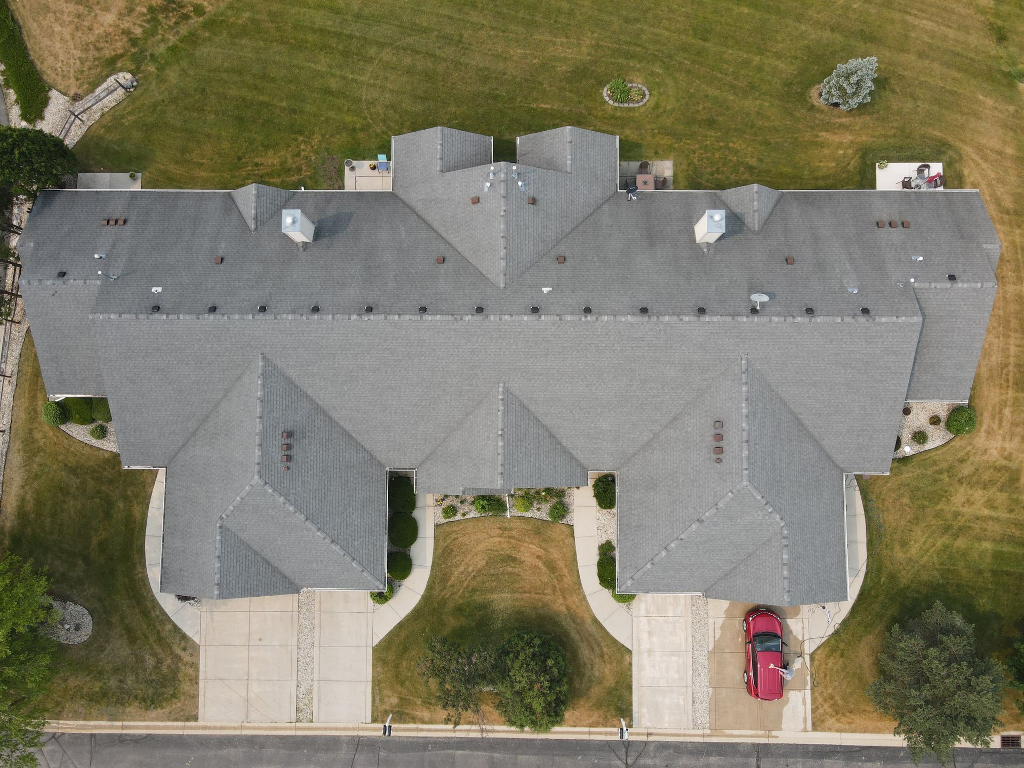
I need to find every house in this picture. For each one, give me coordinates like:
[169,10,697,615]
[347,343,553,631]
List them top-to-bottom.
[19,127,1001,606]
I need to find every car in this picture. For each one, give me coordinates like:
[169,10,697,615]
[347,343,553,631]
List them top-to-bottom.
[742,606,789,703]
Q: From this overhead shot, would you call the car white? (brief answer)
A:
No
